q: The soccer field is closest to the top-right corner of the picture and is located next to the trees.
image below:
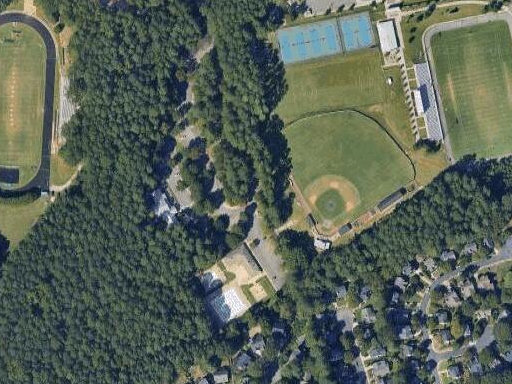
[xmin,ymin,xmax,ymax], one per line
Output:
[423,10,512,167]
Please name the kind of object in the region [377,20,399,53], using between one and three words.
building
